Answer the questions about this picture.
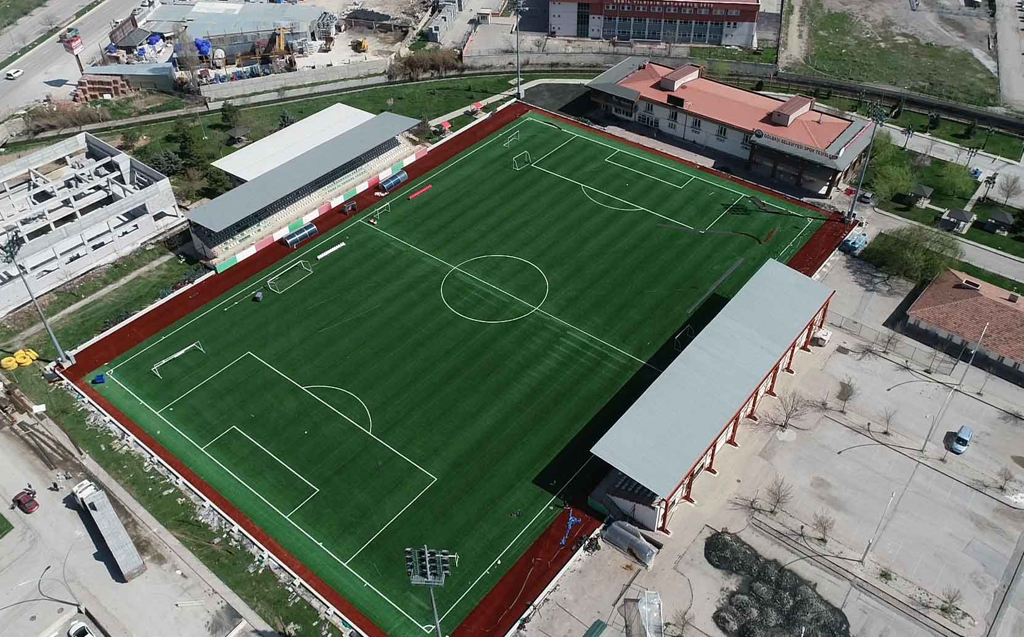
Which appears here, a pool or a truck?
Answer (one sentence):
There is a truck in the scene.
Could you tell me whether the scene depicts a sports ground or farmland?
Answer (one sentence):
What you see here is a sports ground.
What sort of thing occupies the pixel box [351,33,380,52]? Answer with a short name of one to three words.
work vehicle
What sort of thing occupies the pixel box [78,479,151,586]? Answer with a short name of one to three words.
truck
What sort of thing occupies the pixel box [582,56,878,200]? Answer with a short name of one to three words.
building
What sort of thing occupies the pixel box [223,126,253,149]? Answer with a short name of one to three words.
gazebo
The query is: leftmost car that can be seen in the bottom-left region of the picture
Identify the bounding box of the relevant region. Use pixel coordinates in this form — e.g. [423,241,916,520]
[10,493,41,515]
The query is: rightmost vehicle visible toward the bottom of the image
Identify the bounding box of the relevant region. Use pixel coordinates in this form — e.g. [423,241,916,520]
[952,422,975,452]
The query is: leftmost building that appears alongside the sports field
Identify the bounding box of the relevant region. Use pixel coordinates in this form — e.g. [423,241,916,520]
[0,129,186,320]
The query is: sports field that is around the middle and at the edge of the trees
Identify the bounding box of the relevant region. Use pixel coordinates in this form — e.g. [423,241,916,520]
[105,117,823,637]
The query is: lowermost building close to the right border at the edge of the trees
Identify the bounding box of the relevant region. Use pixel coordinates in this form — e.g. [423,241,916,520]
[897,269,1024,384]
